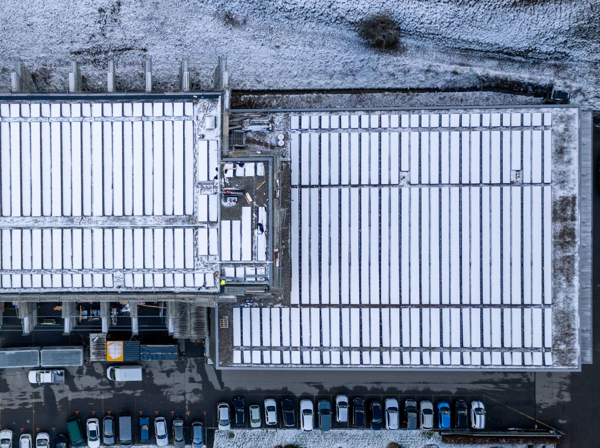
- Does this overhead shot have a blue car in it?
Yes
